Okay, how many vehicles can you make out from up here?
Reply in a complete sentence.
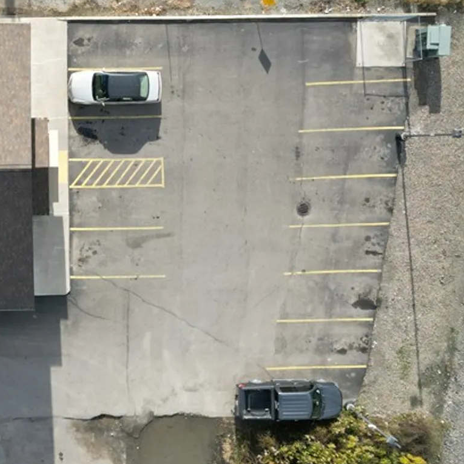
The number of vehicles here is 2.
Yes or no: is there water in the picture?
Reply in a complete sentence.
No, water can't be seen anywhere here.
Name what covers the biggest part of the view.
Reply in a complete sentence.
The largest share of the image is taken up by paved ground.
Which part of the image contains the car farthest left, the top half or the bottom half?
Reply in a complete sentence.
The car farthest left is in the top half of the image.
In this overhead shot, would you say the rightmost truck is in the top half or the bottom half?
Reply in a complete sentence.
You can find the rightmost truck in the bottom half.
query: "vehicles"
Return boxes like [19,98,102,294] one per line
[67,67,163,106]
[233,379,341,426]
